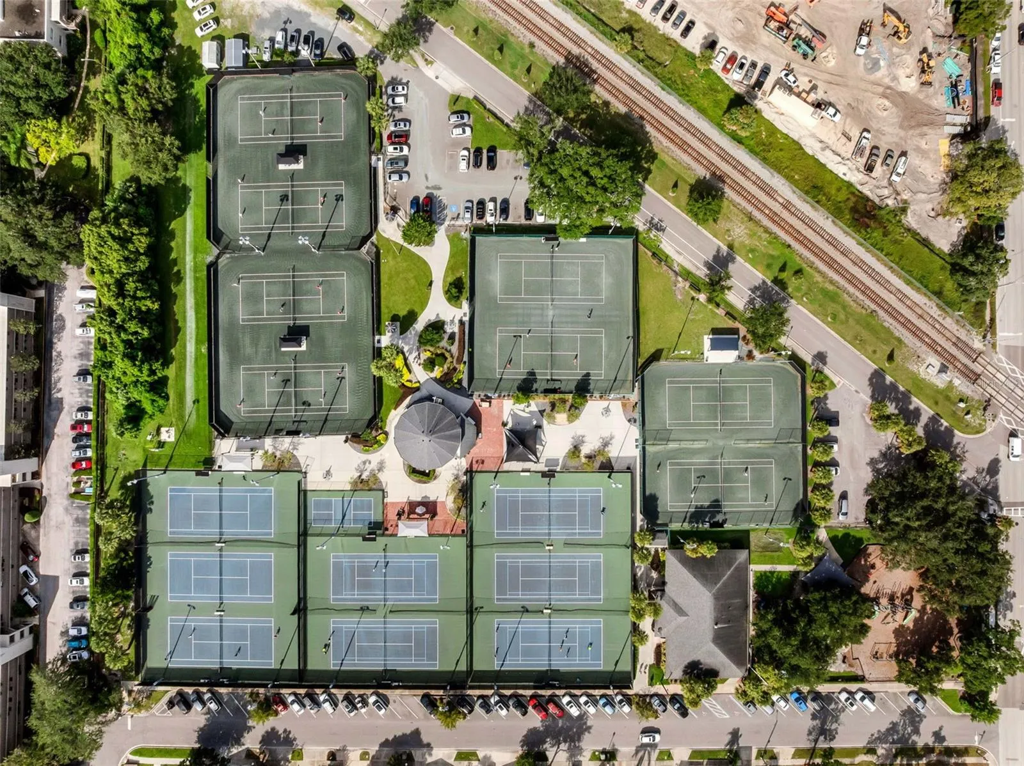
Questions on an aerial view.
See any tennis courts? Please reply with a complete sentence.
Yes, a tennis court appears in the view.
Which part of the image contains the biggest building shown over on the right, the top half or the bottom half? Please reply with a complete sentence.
The biggest building shown over on the right is in the bottom half of the image.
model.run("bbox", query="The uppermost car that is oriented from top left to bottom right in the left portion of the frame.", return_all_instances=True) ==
[335,4,356,23]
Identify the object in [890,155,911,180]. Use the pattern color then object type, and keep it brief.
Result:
white vehicle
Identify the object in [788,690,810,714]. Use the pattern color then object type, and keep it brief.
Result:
blue truck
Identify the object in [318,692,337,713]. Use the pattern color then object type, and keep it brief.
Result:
white car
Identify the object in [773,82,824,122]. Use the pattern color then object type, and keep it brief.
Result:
white trailer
